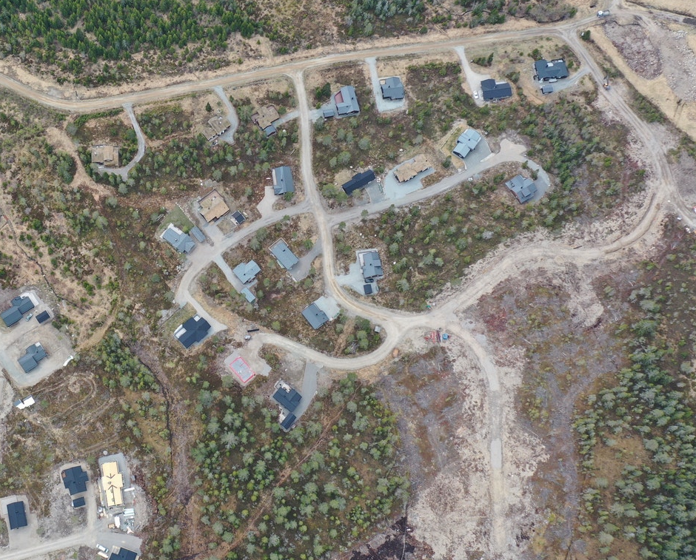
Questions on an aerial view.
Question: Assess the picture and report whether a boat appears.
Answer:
No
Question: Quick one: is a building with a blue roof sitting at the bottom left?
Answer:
Yes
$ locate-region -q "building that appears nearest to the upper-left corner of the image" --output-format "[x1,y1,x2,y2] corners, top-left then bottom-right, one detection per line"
[92,145,119,170]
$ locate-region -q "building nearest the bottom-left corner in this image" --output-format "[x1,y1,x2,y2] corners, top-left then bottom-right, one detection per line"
[0,495,28,530]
